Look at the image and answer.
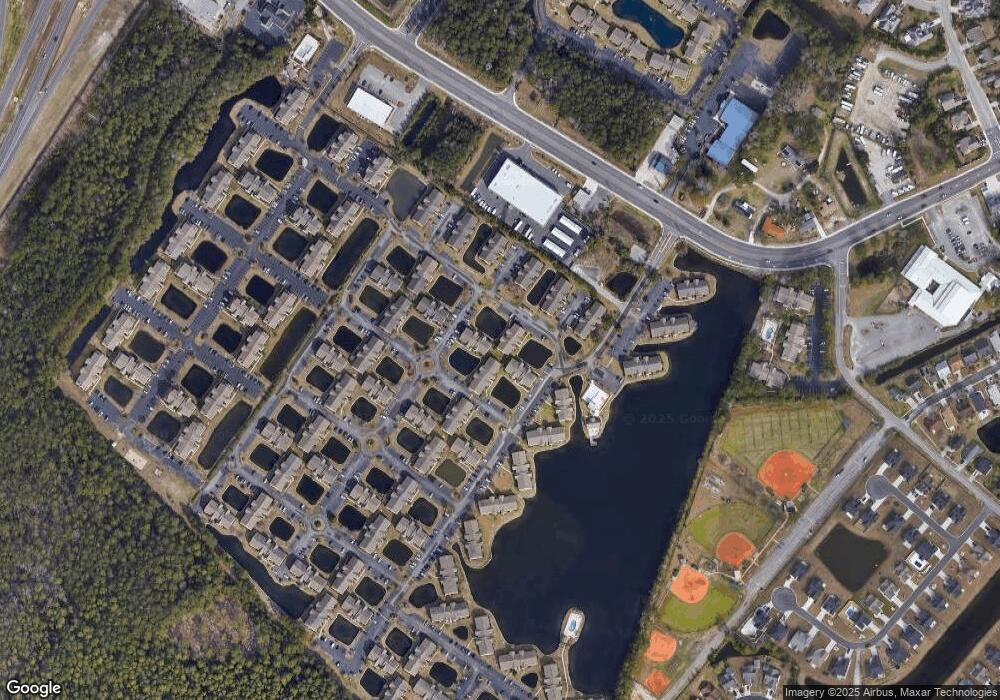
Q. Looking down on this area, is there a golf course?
No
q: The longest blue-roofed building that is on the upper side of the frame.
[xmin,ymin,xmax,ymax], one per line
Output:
[707,87,754,164]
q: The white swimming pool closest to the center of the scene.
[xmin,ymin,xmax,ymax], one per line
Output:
[582,381,609,413]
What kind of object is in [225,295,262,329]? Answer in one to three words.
building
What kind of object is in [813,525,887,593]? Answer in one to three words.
pond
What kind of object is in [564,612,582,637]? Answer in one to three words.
swimming pool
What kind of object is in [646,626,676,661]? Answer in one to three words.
baseball field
